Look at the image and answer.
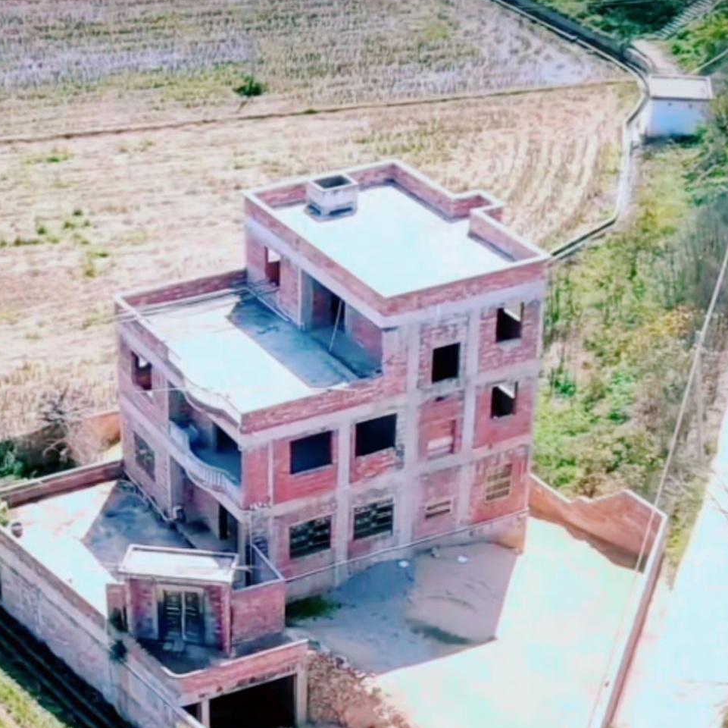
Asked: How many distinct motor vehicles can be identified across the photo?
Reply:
zero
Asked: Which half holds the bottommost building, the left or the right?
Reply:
left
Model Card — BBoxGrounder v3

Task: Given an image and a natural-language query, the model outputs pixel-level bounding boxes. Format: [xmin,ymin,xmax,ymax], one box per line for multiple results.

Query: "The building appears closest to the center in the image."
[116,163,548,612]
